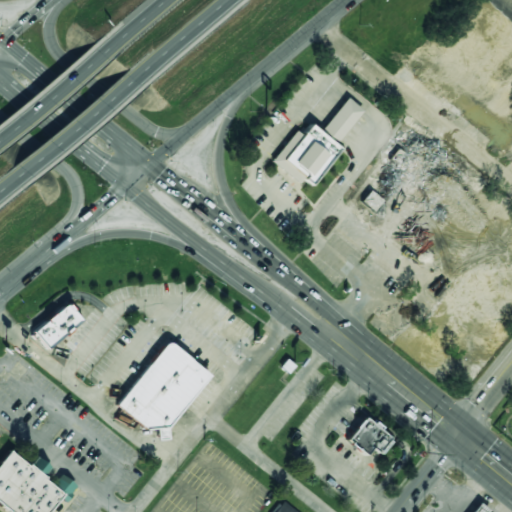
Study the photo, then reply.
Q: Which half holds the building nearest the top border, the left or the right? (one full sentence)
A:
The building nearest the top border sits on the right side.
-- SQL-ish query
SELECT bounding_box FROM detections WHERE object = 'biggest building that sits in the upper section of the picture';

[282,125,344,186]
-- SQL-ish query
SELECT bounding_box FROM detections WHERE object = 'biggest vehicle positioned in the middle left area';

[50,234,77,254]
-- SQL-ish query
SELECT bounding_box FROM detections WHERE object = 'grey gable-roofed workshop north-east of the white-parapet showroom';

[322,99,366,141]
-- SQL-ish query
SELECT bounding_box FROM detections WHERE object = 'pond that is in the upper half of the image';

[454,92,512,162]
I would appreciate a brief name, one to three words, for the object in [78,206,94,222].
vehicle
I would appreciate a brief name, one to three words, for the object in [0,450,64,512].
building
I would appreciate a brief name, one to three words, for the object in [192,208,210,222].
vehicle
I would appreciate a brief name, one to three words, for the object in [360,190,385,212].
building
